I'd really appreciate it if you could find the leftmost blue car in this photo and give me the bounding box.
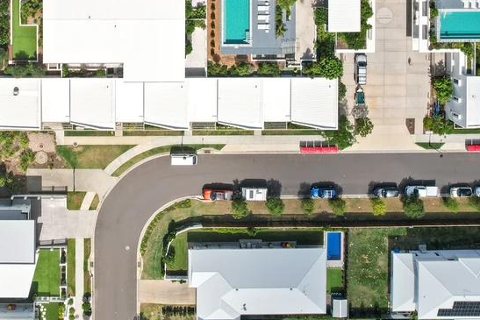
[311,185,338,200]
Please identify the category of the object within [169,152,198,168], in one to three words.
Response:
vehicle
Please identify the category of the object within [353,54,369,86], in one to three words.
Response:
car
